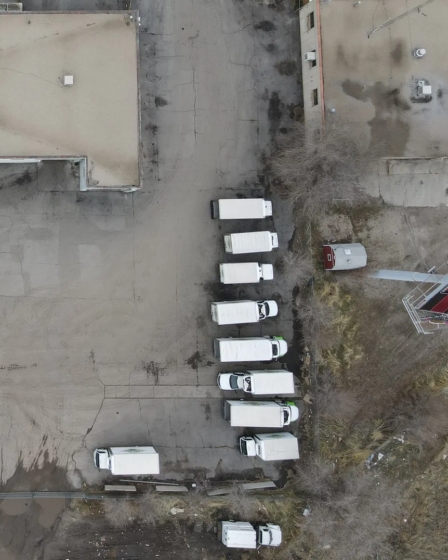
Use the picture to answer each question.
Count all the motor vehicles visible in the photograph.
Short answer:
10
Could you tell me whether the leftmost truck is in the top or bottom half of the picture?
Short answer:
bottom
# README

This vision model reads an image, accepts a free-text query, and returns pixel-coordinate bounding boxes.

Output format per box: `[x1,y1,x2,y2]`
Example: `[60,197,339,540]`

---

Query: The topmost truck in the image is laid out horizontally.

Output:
[203,198,270,221]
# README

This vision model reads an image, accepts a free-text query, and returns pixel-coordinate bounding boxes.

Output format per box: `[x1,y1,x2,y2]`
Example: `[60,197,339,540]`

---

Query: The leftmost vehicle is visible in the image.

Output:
[88,443,160,476]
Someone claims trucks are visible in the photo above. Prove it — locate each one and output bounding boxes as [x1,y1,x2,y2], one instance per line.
[88,443,160,476]
[209,298,272,324]
[203,198,270,221]
[207,367,295,396]
[204,518,279,548]
[215,260,268,284]
[218,398,295,427]
[208,334,285,362]
[222,229,276,253]
[232,431,299,461]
